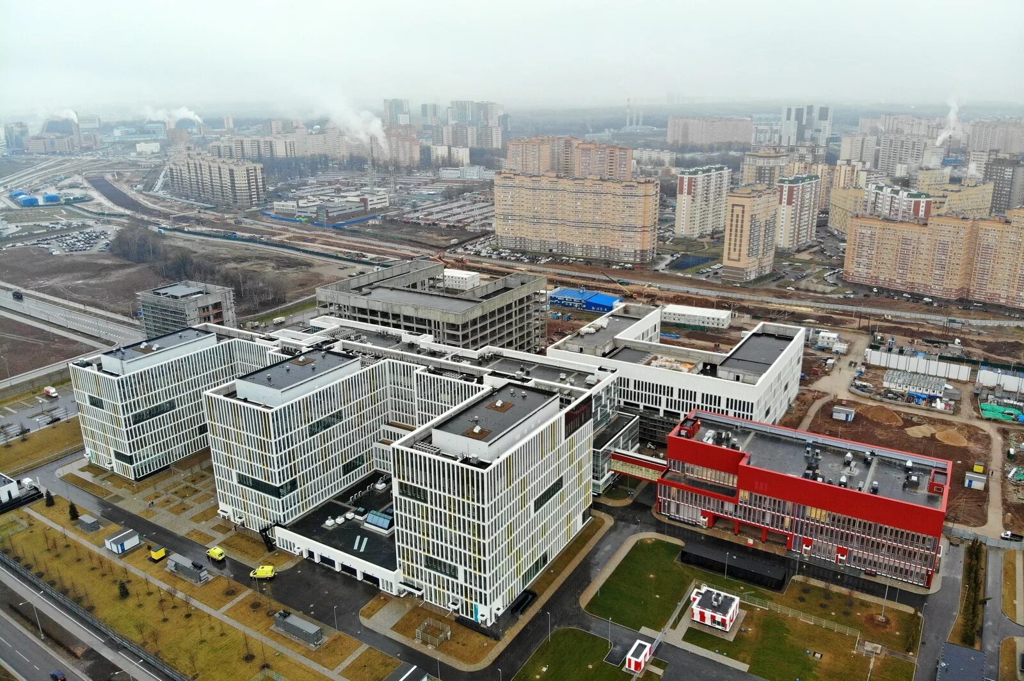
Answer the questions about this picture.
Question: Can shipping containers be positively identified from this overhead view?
Yes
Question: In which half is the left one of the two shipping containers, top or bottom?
bottom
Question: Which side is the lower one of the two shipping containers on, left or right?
left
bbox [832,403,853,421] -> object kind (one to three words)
shed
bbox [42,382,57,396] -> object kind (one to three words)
vehicle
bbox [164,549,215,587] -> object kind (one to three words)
shipping container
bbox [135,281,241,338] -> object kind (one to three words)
building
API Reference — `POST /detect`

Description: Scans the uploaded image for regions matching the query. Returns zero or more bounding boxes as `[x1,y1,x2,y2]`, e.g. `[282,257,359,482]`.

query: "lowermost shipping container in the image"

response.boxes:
[268,605,333,649]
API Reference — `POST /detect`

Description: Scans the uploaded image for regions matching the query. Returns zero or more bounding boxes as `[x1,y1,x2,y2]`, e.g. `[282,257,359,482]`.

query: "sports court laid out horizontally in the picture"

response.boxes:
[669,254,715,270]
